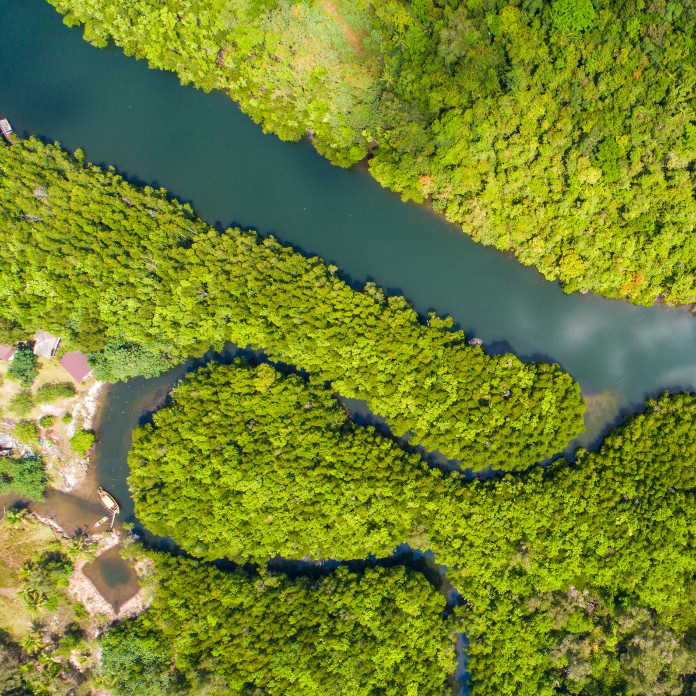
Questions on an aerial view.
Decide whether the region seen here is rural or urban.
rural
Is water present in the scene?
Yes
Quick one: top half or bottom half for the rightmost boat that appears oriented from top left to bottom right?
bottom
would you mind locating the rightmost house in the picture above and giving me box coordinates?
[59,356,90,385]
